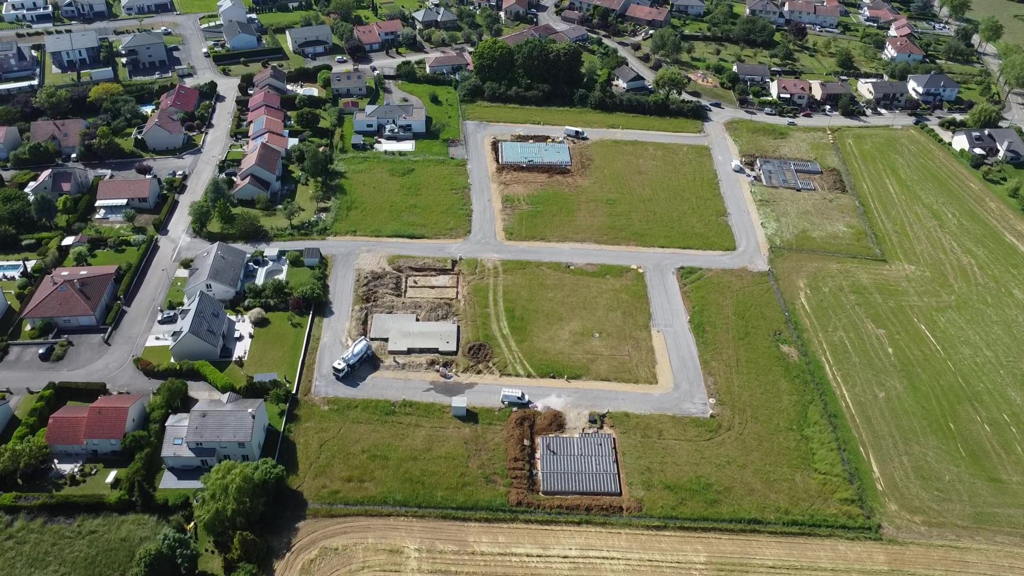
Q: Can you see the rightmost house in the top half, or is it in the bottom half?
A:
top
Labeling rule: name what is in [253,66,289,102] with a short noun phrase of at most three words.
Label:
house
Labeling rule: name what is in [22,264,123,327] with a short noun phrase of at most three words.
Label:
house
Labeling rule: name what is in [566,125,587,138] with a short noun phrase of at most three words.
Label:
vehicle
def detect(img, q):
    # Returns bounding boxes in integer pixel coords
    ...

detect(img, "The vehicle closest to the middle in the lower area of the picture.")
[500,391,530,407]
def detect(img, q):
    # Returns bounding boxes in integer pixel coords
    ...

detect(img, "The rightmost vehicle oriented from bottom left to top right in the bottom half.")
[332,337,377,380]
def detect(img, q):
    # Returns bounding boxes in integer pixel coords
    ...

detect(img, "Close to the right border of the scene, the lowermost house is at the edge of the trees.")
[949,126,1024,165]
